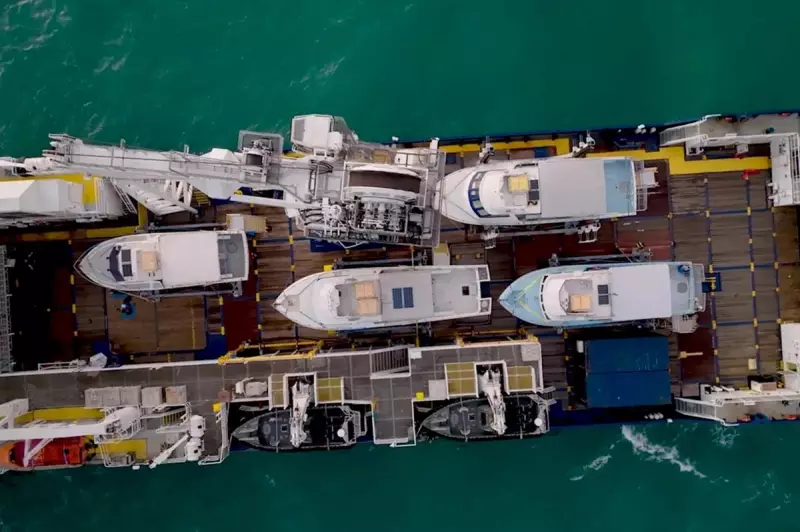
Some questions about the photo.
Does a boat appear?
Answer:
Yes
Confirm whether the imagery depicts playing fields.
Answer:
No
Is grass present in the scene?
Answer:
No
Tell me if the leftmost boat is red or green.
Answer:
red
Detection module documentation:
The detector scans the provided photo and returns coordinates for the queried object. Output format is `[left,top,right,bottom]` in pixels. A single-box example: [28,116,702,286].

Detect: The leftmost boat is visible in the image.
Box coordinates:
[0,437,98,470]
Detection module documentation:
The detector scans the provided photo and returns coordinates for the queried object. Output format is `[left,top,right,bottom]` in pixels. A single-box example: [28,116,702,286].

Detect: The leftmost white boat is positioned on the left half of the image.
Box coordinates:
[70,230,255,300]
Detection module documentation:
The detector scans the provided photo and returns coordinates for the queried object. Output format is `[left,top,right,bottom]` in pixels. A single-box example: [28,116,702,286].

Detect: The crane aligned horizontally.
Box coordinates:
[0,113,448,252]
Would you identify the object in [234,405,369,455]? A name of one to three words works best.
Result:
boat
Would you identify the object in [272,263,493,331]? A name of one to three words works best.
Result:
boat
